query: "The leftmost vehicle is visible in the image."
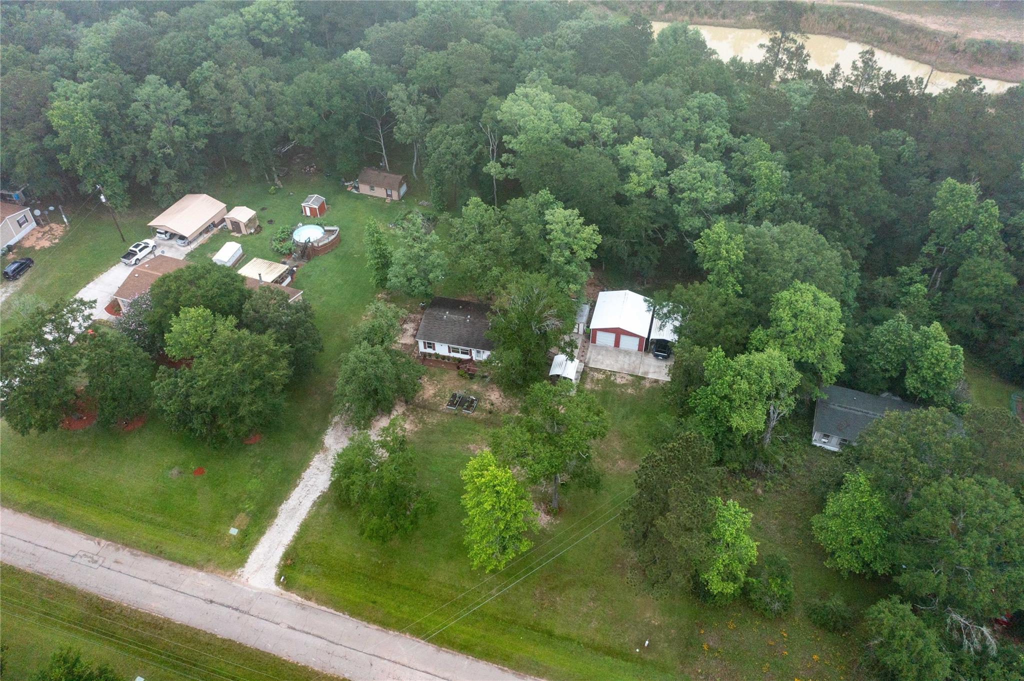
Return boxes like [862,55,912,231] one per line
[0,258,32,279]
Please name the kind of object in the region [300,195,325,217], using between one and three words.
shed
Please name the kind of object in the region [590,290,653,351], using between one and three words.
building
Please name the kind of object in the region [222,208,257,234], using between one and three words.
shed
